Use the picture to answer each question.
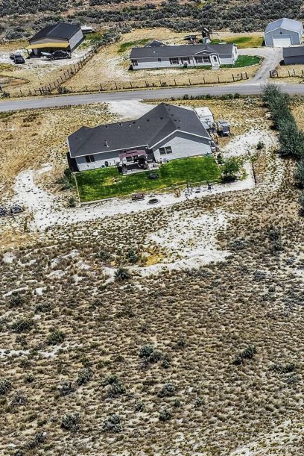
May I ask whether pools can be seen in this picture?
No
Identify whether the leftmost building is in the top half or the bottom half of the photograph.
top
